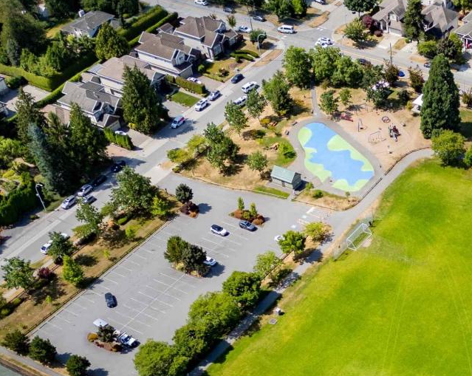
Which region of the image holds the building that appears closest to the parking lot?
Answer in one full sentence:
The building that appears closest to the parking lot is in the center part of the image.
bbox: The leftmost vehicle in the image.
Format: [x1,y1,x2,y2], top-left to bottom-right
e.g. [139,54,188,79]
[37,239,50,254]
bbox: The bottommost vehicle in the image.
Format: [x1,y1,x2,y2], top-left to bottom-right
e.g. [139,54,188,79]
[114,332,138,347]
